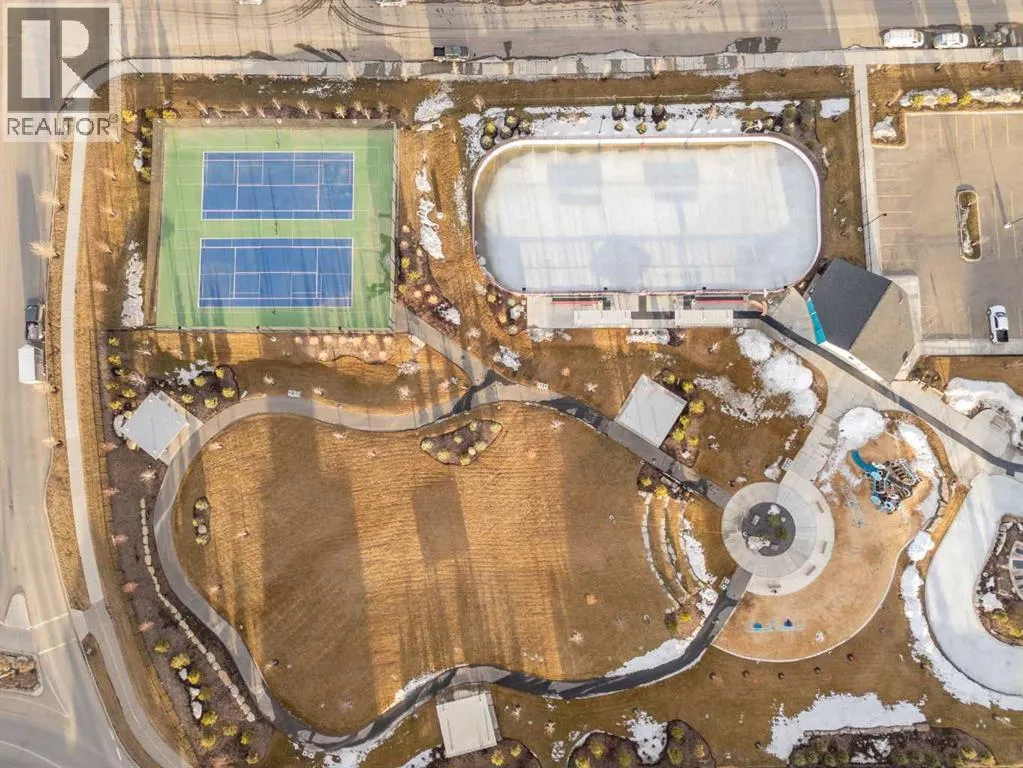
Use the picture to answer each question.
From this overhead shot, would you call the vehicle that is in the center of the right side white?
Yes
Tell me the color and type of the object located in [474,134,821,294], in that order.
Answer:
white sports court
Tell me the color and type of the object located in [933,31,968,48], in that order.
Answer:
white car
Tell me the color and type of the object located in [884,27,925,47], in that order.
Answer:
white vehicle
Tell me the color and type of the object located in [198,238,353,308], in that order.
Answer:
blue tennis court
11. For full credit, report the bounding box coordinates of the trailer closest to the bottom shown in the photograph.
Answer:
[13,341,41,384]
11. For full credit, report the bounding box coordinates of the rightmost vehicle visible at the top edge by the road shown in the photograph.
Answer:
[974,28,1013,46]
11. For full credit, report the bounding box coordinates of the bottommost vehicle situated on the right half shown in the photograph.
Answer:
[989,306,1010,344]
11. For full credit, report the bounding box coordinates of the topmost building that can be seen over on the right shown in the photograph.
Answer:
[805,258,916,382]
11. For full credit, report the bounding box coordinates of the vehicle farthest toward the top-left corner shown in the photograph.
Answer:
[22,302,42,341]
